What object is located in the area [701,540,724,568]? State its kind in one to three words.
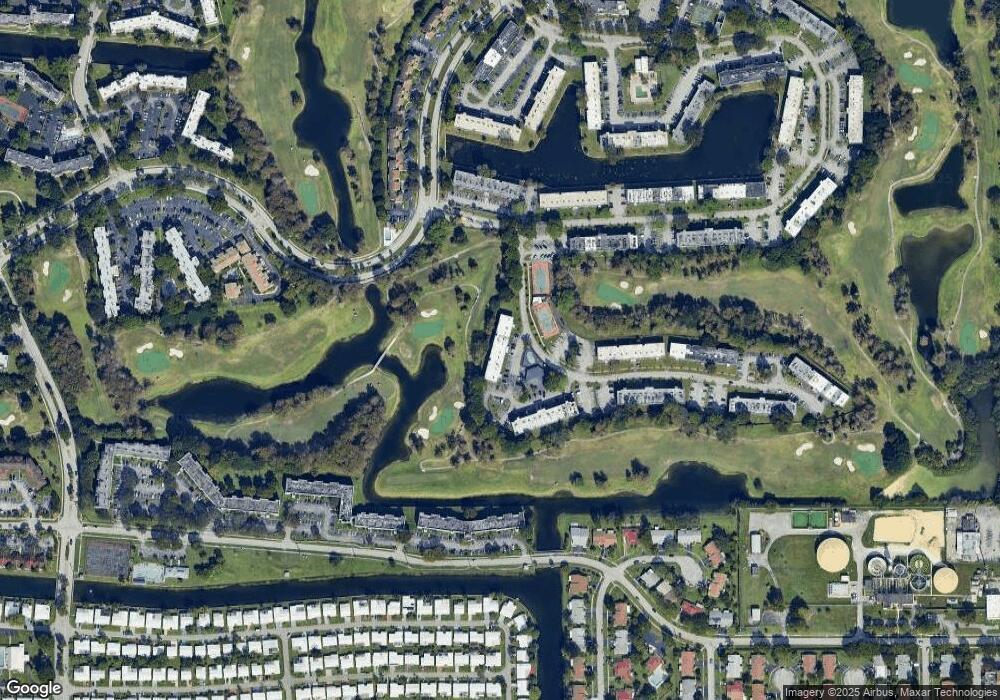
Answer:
house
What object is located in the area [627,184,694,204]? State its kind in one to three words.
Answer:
building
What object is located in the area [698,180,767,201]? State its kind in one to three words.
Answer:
building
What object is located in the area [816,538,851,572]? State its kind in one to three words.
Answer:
storage tank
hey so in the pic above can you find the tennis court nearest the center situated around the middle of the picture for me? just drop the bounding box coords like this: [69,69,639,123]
[533,304,560,337]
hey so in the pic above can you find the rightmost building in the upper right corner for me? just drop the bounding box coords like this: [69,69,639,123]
[848,72,864,144]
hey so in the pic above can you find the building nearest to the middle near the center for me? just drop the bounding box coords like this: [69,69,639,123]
[485,313,514,382]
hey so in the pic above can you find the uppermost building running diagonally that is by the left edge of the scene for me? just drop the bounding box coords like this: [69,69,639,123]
[0,60,62,103]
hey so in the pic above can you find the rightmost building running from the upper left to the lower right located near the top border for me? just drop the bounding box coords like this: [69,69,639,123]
[770,0,838,45]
